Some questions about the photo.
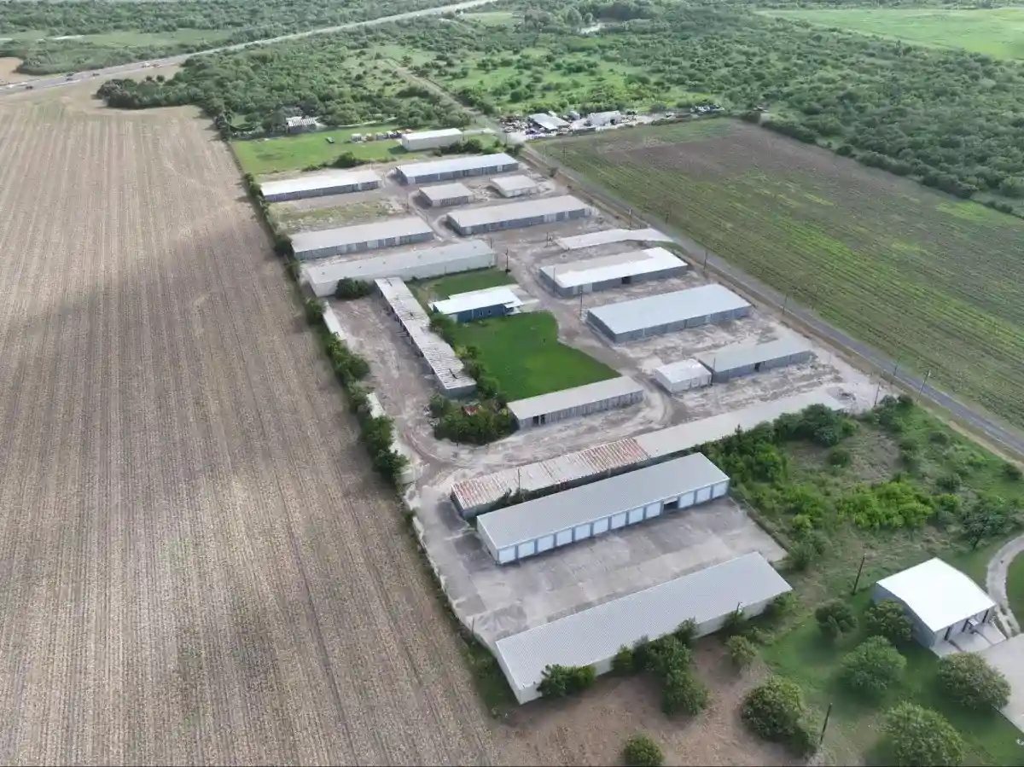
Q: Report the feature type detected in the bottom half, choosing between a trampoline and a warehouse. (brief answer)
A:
warehouse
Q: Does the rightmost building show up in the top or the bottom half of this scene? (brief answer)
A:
bottom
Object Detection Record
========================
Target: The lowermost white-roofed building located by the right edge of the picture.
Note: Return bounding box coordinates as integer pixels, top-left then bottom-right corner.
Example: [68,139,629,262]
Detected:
[874,557,1000,655]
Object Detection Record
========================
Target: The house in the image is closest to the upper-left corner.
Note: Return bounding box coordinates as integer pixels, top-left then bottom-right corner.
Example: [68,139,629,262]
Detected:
[285,115,318,132]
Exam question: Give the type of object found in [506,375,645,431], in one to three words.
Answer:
shed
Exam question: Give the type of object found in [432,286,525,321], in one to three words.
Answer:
house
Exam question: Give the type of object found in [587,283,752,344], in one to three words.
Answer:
building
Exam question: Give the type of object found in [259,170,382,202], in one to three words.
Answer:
building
